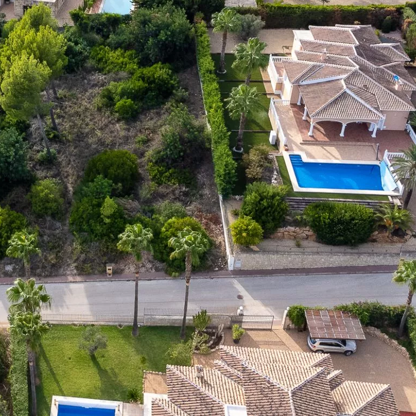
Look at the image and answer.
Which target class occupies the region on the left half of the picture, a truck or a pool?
pool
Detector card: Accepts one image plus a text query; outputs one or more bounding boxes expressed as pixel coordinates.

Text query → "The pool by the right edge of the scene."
[283,151,402,193]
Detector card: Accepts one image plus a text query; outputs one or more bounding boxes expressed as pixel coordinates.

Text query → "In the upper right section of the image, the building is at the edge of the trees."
[282,22,416,137]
